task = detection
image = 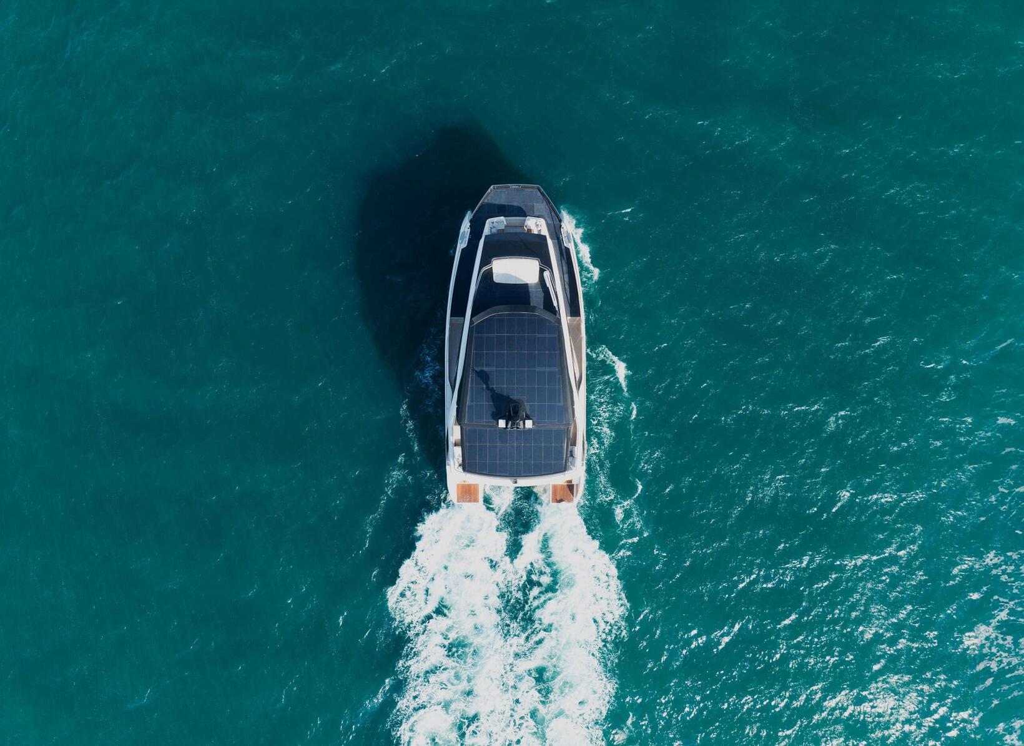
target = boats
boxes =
[446,183,586,503]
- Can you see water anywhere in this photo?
Yes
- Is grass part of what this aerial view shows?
No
